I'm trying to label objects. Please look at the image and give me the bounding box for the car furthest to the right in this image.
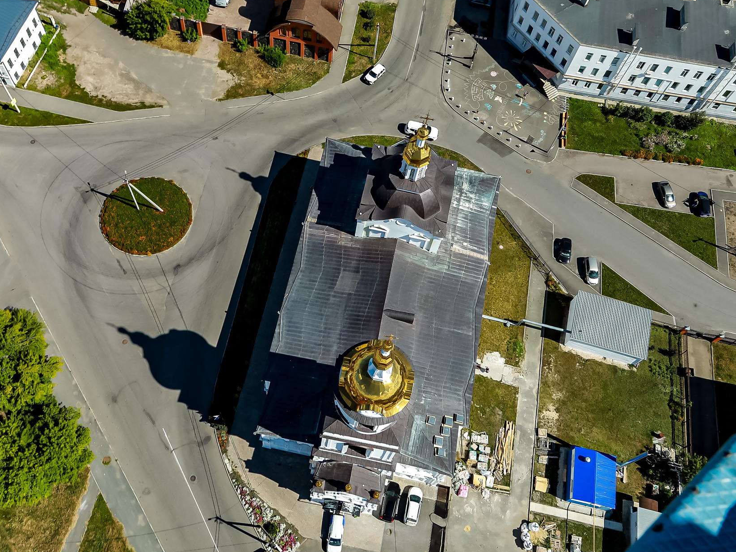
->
[692,192,716,217]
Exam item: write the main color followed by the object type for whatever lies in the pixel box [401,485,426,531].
white car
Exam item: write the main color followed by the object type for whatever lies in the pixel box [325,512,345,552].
white vehicle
